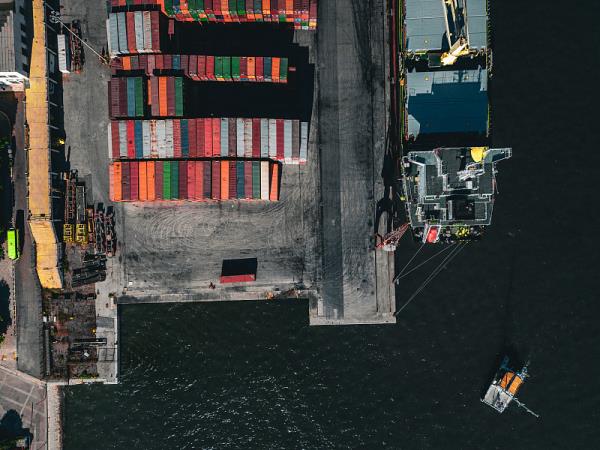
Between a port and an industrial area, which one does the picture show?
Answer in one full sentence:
This looks like a port.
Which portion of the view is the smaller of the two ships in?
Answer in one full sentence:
The smaller of the two ships is in the bottom right part of the image.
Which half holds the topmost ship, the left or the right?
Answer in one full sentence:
You can find the topmost ship on the right side of the picture.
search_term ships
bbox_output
[391,0,514,244]
[481,362,541,420]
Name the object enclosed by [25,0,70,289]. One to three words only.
building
